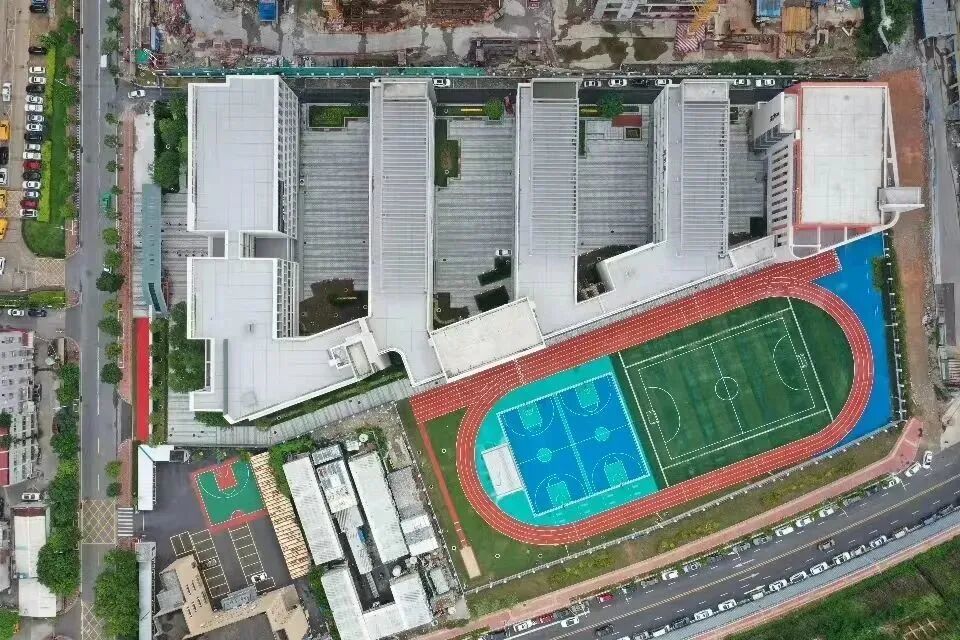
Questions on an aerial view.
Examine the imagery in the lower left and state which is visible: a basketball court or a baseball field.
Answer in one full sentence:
Looking in the lower left, you will find a basketball court.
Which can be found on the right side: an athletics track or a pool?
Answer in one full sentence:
Looking on the right side, you will find an athletics track.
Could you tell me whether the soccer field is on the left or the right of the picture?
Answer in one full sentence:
The soccer field appears in the right half of the scene.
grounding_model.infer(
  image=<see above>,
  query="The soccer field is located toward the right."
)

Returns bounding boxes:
[617,297,855,488]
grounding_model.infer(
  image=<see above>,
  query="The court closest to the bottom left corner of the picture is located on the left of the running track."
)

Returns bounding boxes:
[189,459,268,534]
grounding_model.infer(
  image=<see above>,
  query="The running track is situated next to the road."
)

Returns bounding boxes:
[409,247,875,545]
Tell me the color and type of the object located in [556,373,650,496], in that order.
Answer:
blue basketball court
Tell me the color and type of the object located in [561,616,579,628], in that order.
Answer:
white vehicle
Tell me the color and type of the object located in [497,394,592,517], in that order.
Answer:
blue basketball court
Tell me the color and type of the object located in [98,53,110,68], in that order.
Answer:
white vehicle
